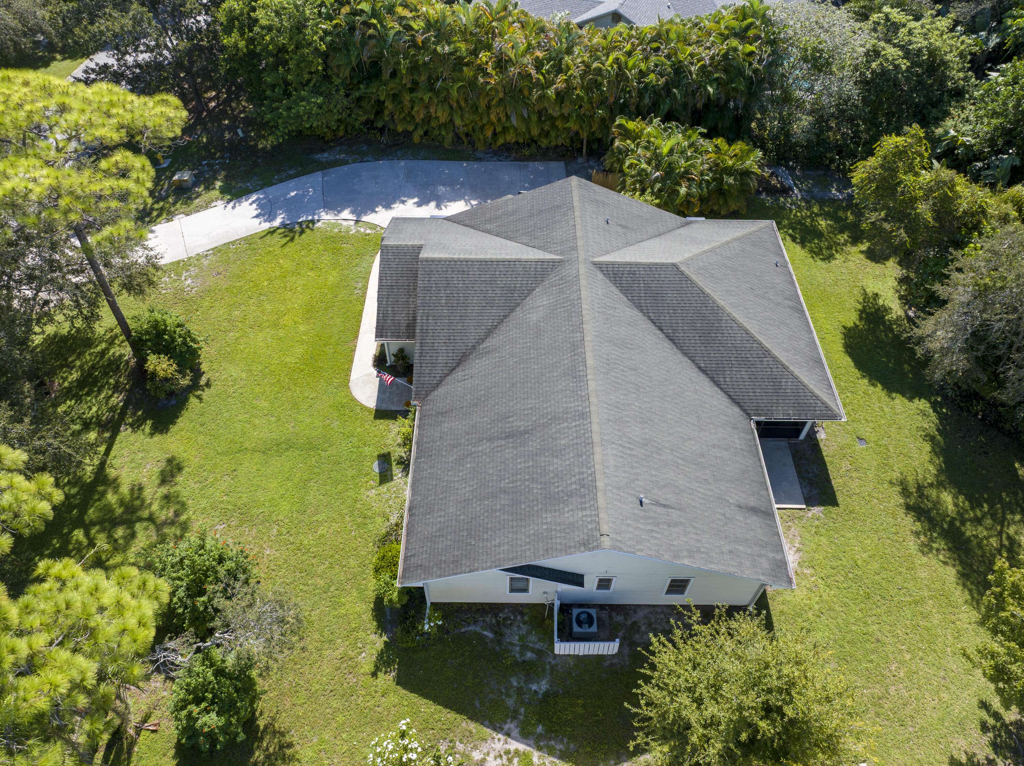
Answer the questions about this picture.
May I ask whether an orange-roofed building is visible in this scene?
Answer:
No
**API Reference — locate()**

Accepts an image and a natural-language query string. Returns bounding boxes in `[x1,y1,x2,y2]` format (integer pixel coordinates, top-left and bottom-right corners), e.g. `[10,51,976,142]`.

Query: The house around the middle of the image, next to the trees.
[374,172,851,626]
